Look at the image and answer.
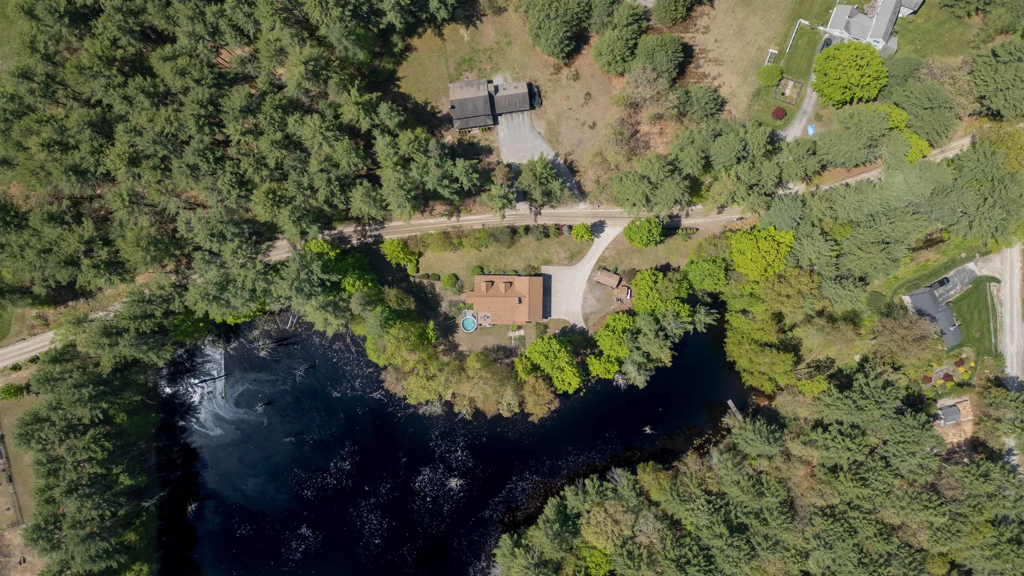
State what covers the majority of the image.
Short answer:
trees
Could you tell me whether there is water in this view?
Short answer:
Yes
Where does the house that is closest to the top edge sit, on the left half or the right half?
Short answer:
right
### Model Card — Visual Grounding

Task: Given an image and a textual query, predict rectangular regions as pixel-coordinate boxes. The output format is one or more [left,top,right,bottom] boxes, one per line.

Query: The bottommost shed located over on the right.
[935,401,963,421]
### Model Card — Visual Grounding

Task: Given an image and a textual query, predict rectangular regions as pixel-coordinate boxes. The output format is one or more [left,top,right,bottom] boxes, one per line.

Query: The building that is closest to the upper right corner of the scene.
[820,0,927,56]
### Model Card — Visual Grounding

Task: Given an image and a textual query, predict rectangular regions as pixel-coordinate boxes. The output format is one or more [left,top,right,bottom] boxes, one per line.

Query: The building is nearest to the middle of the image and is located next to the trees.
[466,275,543,324]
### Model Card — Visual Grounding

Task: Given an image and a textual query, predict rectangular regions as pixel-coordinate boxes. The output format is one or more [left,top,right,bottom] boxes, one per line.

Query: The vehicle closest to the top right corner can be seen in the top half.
[819,35,832,53]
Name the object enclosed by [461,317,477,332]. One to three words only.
swimming pool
